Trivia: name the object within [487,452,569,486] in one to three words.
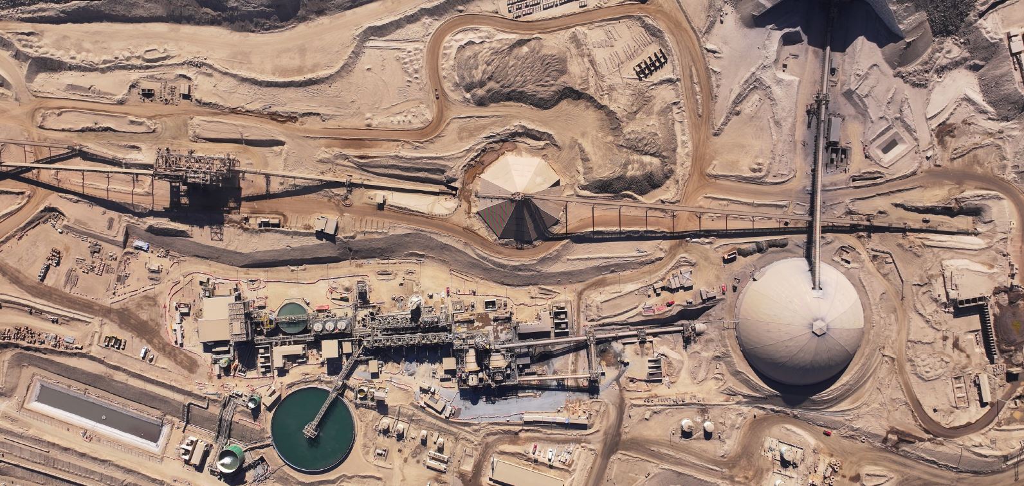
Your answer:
building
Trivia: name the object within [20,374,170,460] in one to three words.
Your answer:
pond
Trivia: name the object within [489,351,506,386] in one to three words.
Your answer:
building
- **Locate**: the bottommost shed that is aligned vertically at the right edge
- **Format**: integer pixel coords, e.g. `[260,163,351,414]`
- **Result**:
[974,373,990,402]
